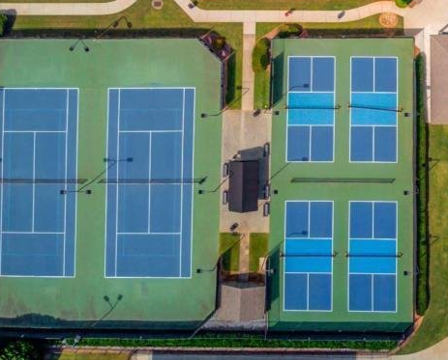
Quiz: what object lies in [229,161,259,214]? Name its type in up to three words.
building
